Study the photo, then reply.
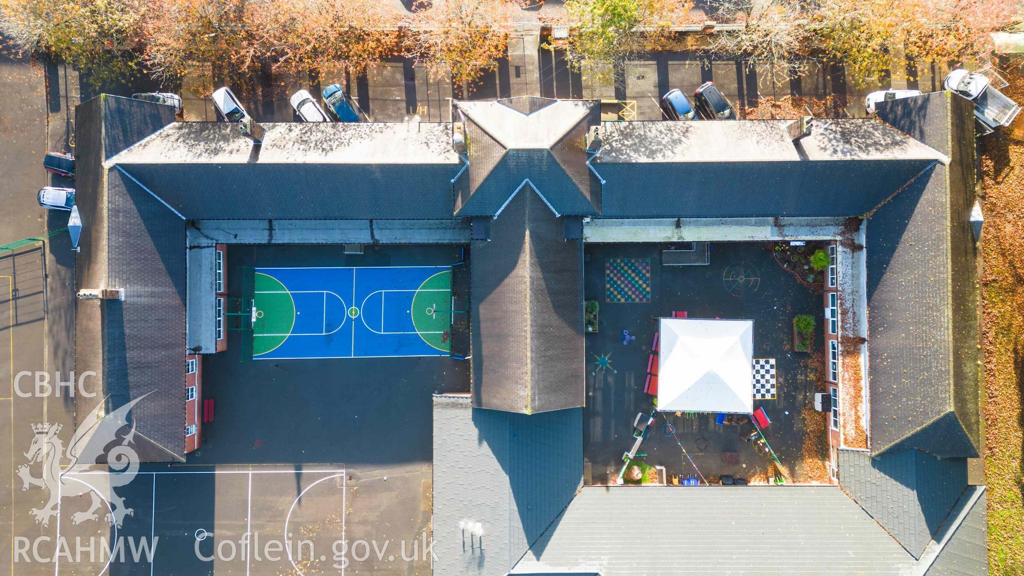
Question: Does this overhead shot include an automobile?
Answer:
Yes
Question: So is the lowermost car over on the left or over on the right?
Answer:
left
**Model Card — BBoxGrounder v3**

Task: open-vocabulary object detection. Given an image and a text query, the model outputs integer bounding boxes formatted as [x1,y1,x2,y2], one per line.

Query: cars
[323,81,367,121]
[863,88,918,112]
[696,81,738,118]
[35,187,74,212]
[41,151,74,179]
[131,90,186,115]
[211,89,248,121]
[662,86,699,119]
[289,88,329,121]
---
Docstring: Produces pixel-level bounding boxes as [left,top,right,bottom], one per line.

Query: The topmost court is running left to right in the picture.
[253,266,452,359]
